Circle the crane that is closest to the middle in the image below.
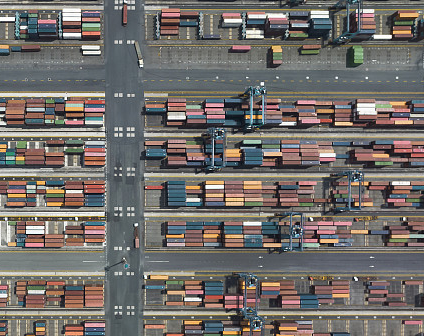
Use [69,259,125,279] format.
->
[201,127,228,173]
